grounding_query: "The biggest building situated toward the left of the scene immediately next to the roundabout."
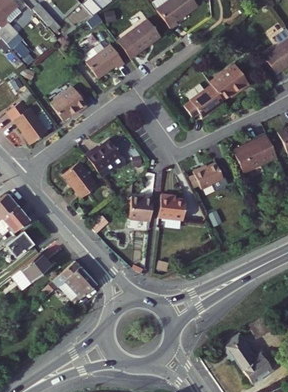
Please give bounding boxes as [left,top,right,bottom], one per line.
[66,268,100,302]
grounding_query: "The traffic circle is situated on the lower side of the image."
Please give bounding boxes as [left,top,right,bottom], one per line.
[86,284,188,374]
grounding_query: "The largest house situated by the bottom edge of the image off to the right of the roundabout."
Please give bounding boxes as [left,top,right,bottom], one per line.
[229,342,264,378]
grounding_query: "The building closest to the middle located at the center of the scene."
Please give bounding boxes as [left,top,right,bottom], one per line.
[128,195,154,222]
